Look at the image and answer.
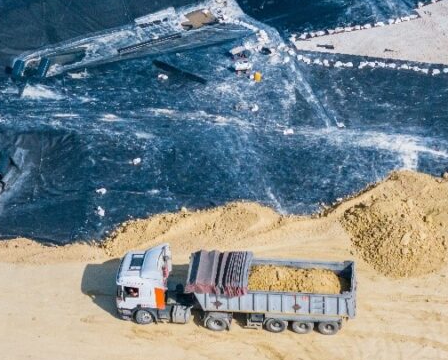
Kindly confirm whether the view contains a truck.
Yes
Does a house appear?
No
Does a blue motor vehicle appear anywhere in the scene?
No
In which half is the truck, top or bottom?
bottom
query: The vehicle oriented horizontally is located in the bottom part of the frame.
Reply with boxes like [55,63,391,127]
[116,242,360,334]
